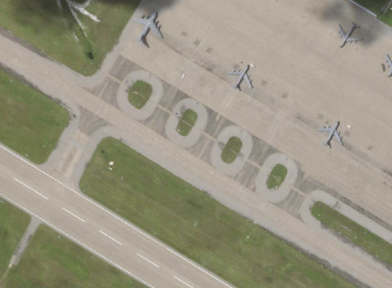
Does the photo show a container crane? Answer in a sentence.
No, this view has no container crane in it.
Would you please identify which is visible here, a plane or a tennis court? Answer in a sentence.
It is a plane that can be seen here.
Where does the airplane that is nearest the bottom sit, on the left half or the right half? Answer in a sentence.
The airplane that is nearest the bottom is on the right side of the image.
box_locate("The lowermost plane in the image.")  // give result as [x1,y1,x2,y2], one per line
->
[320,121,344,146]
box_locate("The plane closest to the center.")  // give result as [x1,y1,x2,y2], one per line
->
[229,63,254,89]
